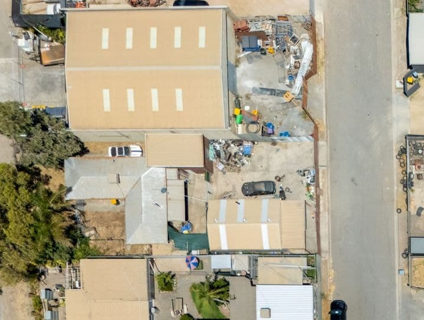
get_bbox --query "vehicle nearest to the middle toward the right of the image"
[242,180,278,198]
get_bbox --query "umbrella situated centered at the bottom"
[186,256,199,269]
